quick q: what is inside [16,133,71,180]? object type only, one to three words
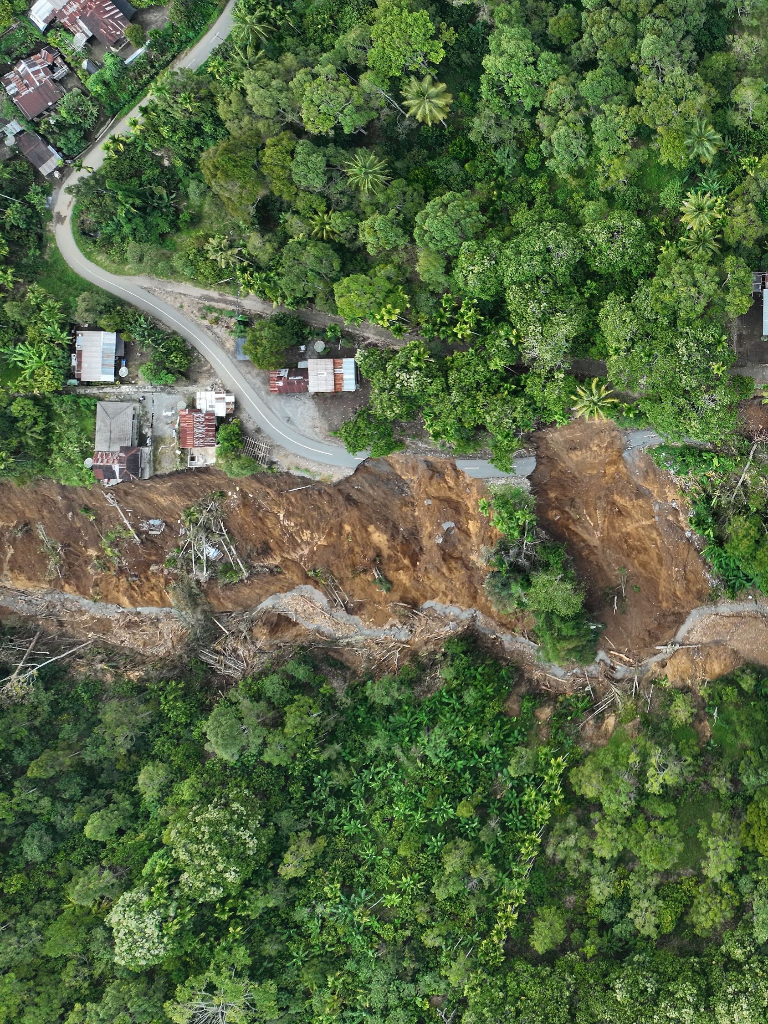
house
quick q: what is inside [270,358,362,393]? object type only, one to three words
house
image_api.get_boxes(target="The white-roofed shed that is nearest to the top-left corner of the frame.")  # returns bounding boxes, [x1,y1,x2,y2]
[30,0,68,30]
